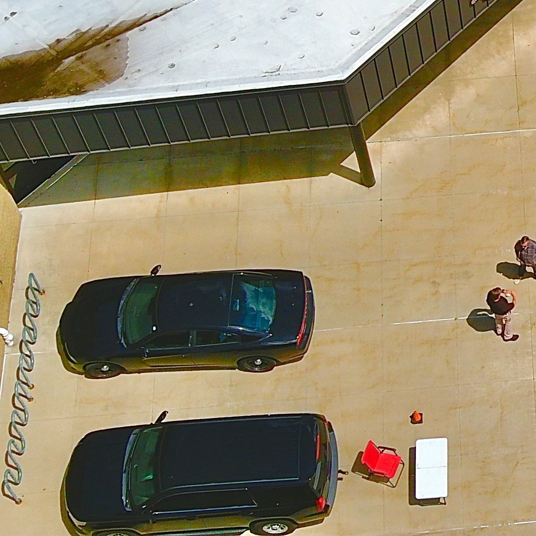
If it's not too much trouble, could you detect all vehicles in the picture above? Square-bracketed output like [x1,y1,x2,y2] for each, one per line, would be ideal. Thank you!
[58,259,314,378]
[62,404,358,536]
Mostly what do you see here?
paved ground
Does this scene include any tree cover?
No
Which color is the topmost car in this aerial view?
black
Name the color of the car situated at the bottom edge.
black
